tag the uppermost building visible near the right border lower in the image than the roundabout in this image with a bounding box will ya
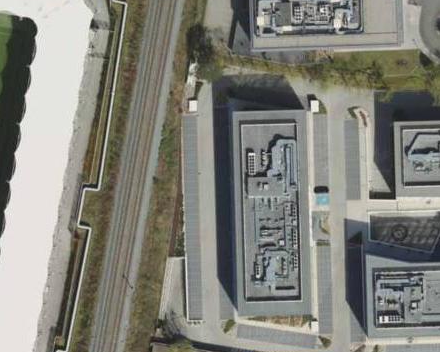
[392,118,440,199]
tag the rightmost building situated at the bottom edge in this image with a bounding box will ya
[365,247,440,338]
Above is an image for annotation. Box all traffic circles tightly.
[416,0,440,52]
